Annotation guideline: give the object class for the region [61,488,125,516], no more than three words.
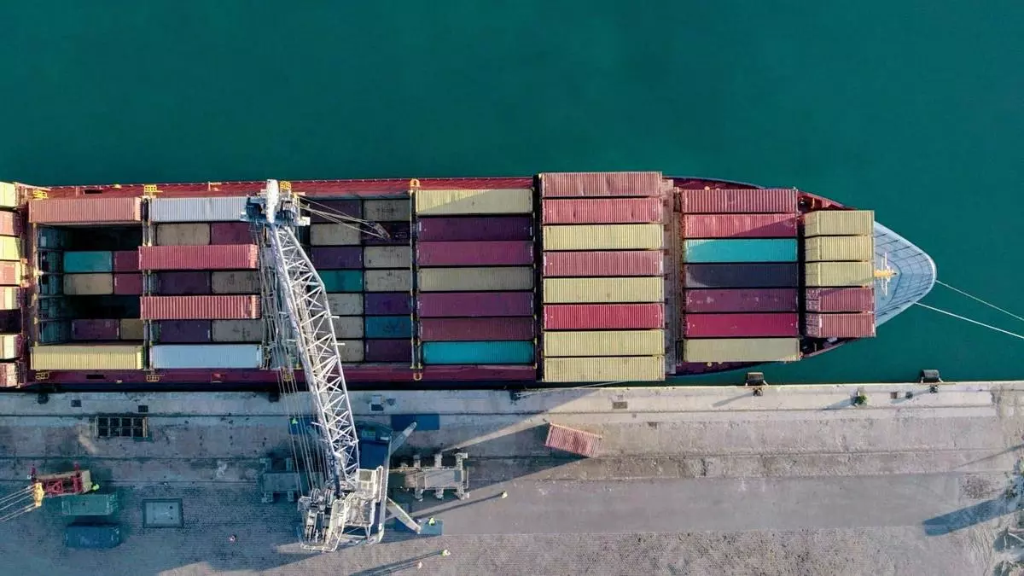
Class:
shipping container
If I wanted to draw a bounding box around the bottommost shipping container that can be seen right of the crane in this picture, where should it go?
[545,420,602,456]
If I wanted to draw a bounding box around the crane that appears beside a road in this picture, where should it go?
[240,178,470,554]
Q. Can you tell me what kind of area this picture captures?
port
